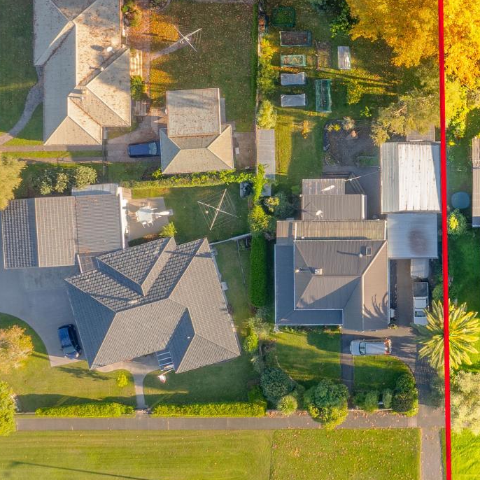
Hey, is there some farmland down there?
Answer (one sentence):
No, there is no farmland in the image.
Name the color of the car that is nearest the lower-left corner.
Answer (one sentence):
The car that is nearest the lower-left corner looks blue in the image.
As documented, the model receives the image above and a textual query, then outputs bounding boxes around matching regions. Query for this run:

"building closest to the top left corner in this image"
[33,0,136,145]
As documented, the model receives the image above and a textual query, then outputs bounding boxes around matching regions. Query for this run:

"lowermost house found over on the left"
[63,236,242,374]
